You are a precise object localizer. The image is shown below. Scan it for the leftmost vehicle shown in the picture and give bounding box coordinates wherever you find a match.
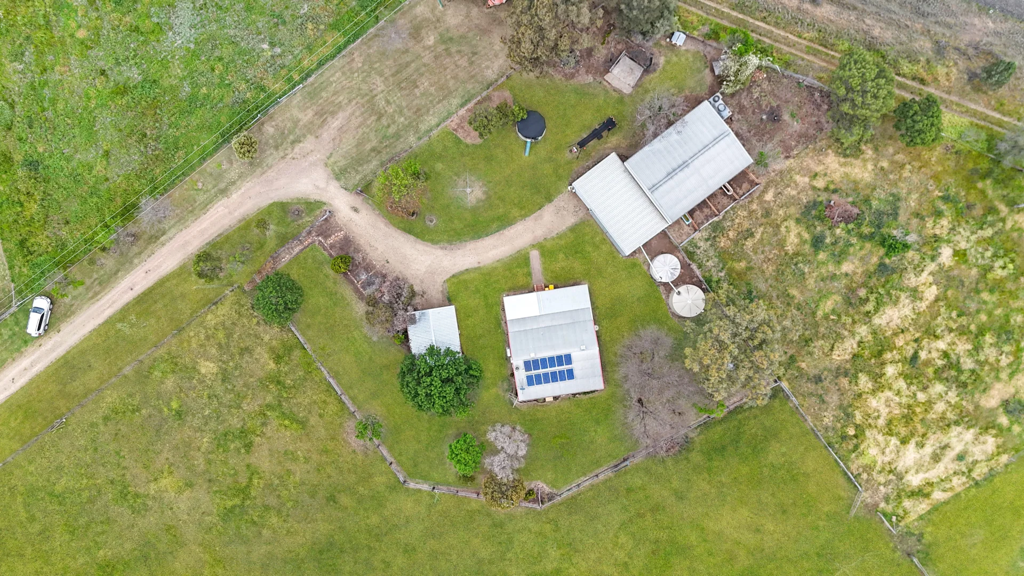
[26,296,53,338]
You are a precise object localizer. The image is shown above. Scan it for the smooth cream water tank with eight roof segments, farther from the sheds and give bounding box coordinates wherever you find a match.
[669,284,706,317]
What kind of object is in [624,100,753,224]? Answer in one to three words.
barn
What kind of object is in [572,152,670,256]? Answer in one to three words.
shed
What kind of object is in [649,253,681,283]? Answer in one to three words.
water tank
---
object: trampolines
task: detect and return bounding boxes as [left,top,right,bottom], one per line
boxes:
[516,111,547,156]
